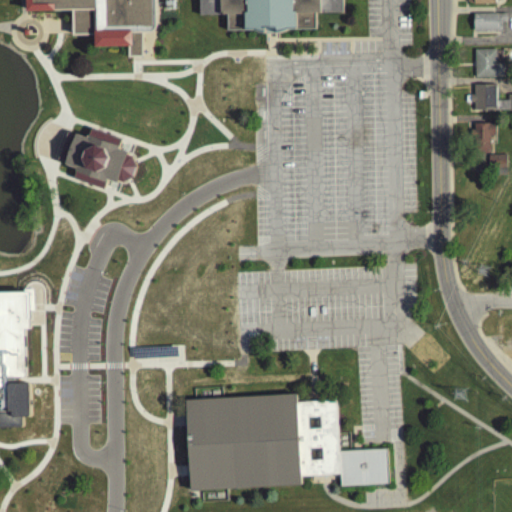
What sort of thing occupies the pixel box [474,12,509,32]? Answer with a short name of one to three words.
house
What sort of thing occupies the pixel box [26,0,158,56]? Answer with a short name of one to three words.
building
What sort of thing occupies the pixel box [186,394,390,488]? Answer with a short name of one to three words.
building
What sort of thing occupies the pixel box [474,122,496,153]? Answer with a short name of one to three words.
house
